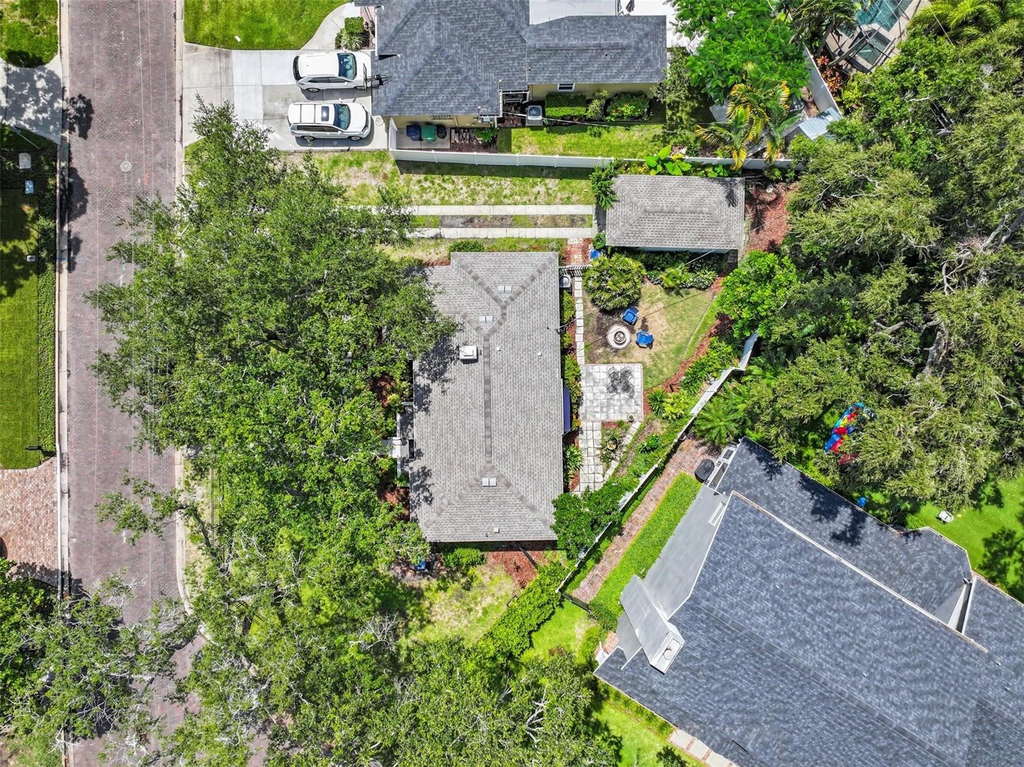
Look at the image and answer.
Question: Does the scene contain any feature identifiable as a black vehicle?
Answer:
No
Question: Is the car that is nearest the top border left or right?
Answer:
left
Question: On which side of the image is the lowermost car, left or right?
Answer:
left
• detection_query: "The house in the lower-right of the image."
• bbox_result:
[593,438,1024,767]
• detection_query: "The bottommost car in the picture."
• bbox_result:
[286,99,371,141]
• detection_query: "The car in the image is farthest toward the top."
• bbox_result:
[293,50,371,91]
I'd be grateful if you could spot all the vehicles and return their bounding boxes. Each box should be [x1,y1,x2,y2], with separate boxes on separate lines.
[286,99,371,141]
[293,50,371,91]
